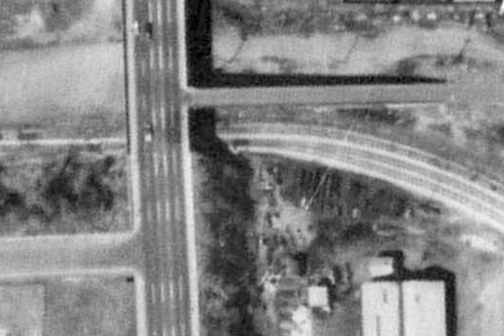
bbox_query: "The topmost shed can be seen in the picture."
[370,256,394,277]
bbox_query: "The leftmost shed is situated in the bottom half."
[309,285,329,309]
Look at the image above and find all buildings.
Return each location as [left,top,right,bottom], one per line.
[360,281,401,336]
[370,256,394,277]
[309,285,329,309]
[403,278,446,336]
